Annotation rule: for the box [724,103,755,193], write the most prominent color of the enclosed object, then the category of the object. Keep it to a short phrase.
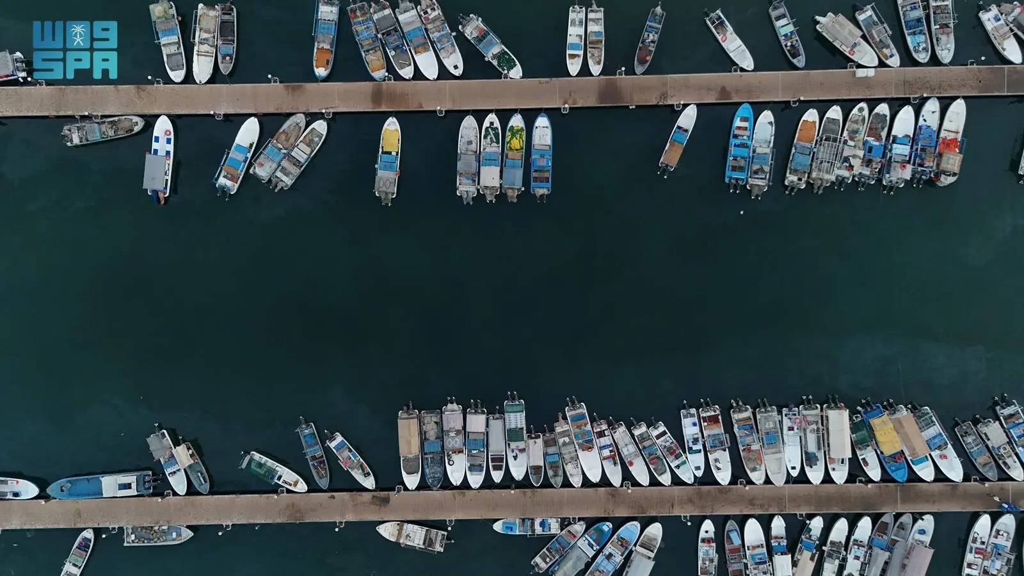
blue boat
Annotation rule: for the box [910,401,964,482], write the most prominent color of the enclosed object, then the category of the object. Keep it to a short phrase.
white boat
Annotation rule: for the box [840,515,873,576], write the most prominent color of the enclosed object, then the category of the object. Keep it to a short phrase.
white boat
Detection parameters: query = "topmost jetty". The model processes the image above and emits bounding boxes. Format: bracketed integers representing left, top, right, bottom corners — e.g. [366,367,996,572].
[0,58,1024,123]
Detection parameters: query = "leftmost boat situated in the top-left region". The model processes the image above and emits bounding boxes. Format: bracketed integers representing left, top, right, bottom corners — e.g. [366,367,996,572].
[0,51,36,80]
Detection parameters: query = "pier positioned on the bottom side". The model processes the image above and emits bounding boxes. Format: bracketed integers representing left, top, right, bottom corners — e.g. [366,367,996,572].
[0,474,1024,537]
